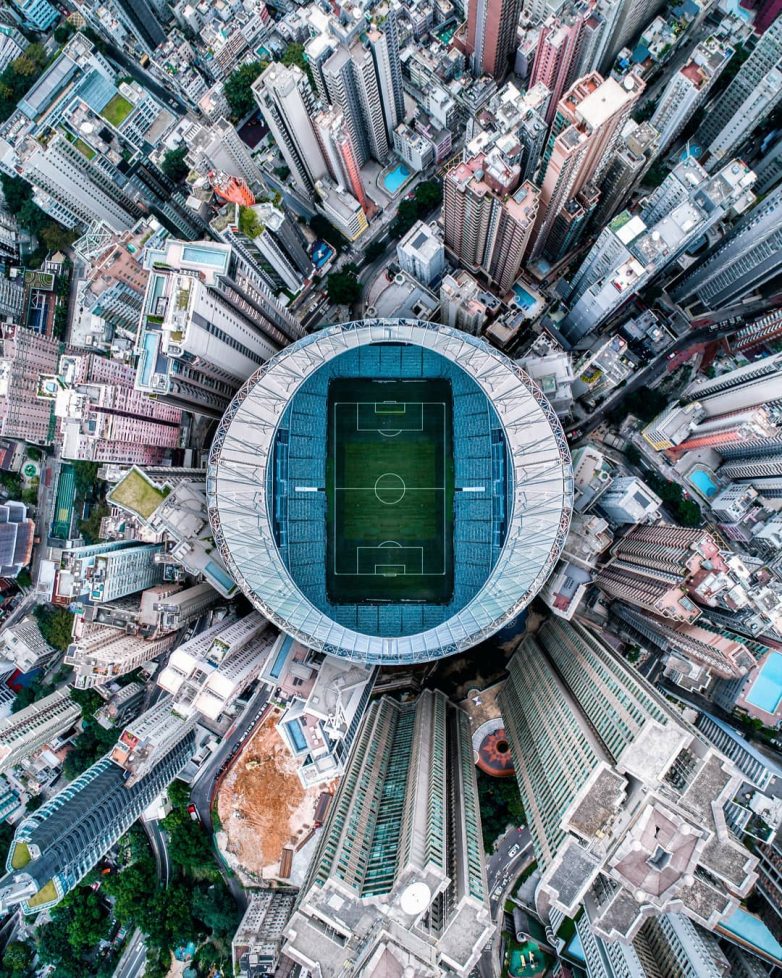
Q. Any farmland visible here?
No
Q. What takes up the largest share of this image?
buildings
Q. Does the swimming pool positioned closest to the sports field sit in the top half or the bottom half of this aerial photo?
bottom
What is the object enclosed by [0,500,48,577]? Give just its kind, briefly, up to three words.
building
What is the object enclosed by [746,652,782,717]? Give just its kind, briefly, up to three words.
swimming pool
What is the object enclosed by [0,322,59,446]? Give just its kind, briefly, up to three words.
building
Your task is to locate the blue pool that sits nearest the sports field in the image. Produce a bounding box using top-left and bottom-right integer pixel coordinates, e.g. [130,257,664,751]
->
[268,636,293,679]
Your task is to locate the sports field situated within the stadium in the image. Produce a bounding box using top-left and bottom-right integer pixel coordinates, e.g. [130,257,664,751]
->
[328,373,455,603]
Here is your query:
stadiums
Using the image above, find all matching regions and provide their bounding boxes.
[206,318,572,666]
